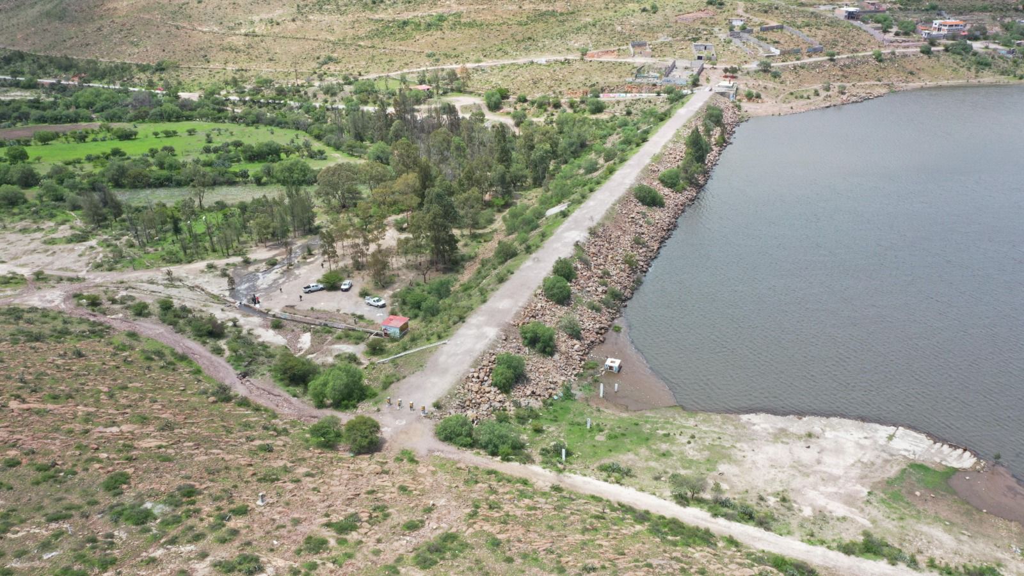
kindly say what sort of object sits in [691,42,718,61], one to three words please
house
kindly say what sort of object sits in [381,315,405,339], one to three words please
shed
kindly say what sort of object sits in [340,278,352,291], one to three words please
vehicle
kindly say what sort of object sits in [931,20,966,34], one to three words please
house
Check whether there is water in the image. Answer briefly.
Yes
